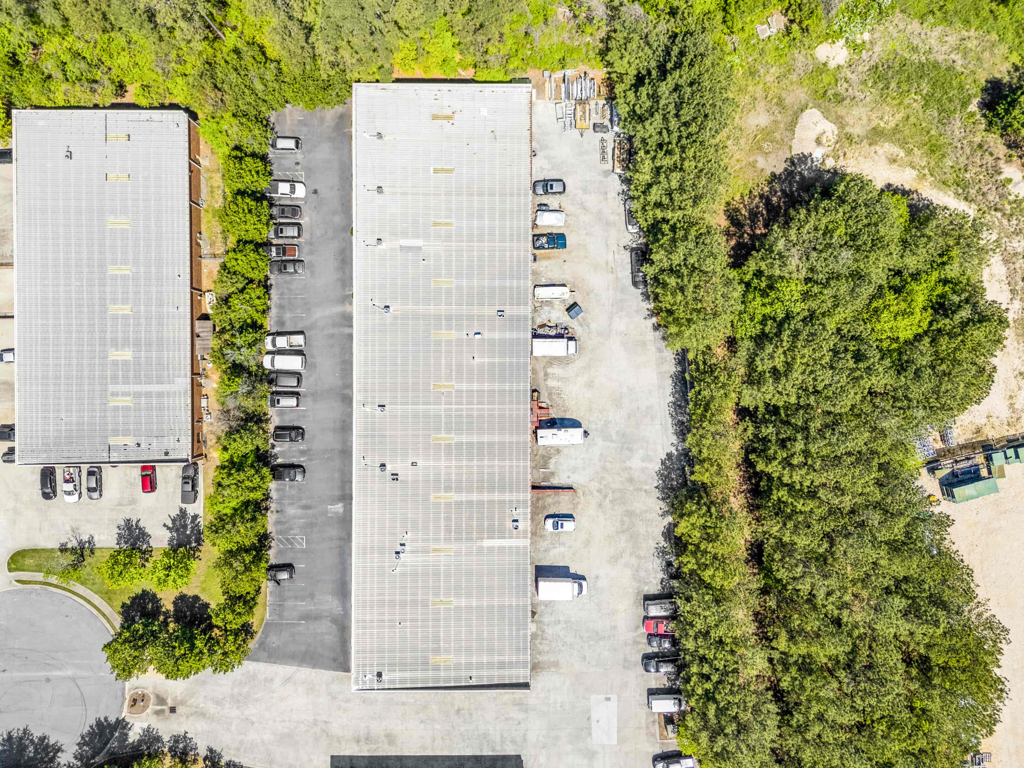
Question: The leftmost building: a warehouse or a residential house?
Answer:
warehouse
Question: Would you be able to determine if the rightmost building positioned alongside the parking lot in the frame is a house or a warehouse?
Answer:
warehouse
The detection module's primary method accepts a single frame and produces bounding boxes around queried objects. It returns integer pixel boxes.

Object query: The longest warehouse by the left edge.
[8,107,204,464]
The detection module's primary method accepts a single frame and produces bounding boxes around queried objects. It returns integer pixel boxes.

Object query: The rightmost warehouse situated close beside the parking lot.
[352,82,534,692]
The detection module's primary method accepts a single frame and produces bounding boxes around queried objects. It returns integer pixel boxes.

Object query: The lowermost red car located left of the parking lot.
[139,463,157,494]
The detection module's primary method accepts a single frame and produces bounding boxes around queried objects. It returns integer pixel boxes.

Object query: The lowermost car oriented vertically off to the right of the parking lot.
[631,248,649,289]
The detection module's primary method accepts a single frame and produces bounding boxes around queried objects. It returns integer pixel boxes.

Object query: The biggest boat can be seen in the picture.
[534,285,577,301]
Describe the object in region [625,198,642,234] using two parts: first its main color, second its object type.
gray car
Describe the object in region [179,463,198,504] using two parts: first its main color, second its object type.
gray vehicle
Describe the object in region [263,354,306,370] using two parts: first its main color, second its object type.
white vehicle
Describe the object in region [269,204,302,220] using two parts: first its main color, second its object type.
gray car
